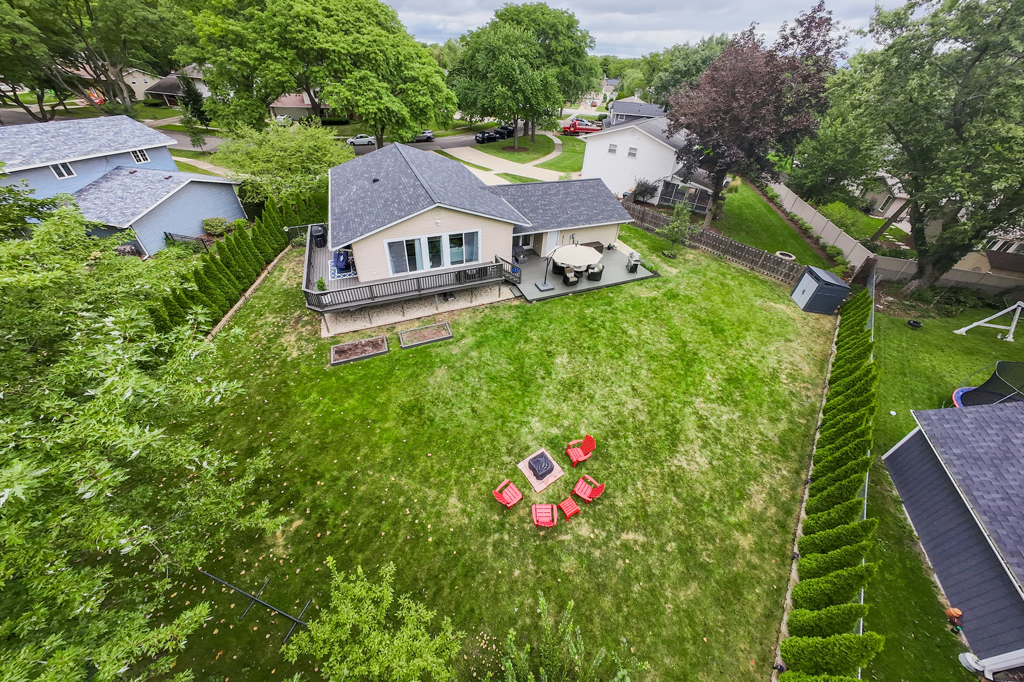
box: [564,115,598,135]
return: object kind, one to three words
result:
vehicle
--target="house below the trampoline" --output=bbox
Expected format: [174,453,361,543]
[880,403,1024,682]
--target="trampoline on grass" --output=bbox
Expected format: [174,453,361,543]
[945,360,1024,406]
